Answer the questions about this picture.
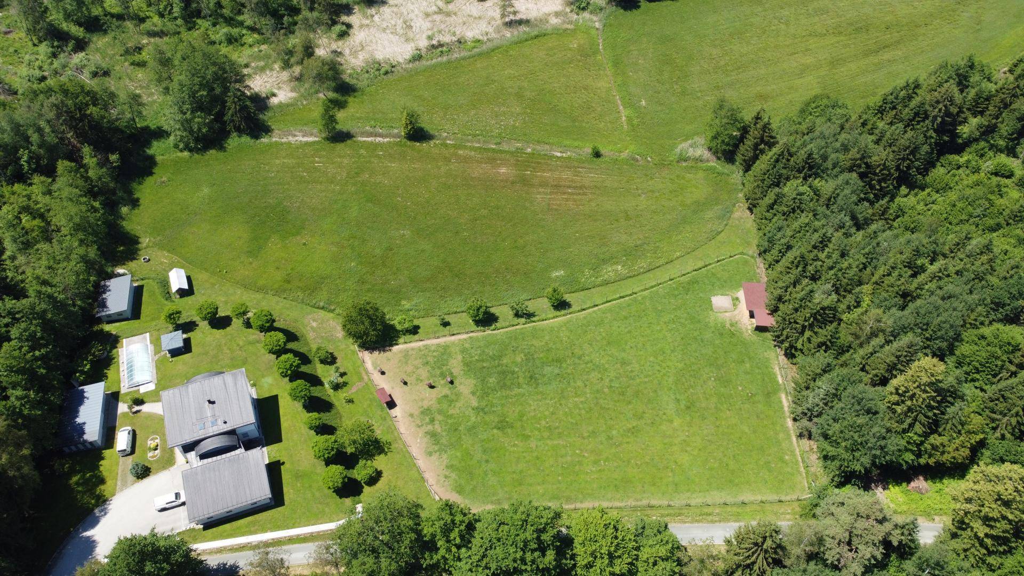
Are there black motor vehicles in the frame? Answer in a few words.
No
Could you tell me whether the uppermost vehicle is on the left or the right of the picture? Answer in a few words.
left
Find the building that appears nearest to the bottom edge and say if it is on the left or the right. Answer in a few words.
left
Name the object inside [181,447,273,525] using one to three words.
building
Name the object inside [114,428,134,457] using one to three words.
vehicle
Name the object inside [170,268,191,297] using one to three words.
tent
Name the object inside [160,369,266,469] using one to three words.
house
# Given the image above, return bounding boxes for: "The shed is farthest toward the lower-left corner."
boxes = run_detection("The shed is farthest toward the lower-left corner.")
[56,382,109,455]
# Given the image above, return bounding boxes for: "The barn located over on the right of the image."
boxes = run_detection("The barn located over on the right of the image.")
[741,282,772,334]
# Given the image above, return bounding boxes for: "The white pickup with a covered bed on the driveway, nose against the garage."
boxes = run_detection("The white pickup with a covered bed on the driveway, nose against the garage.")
[152,490,185,511]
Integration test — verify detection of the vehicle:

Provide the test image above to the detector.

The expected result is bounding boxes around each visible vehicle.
[152,490,185,511]
[114,428,134,457]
